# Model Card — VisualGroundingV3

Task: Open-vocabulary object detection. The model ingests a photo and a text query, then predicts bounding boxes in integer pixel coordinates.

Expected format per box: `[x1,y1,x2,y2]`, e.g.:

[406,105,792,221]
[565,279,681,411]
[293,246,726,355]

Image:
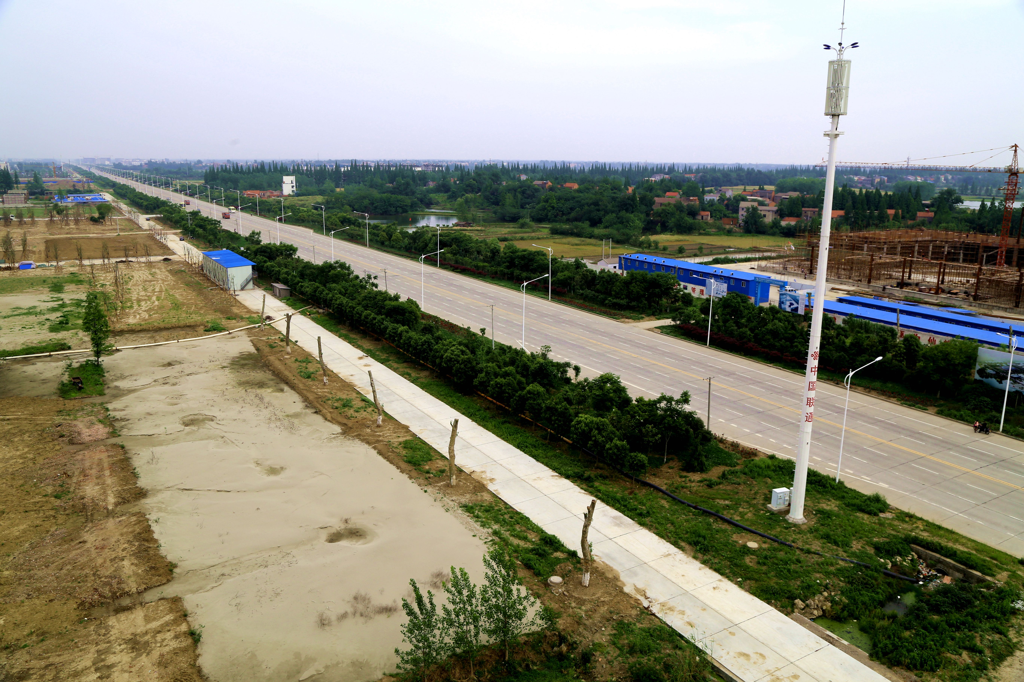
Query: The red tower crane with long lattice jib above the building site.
[815,143,1024,262]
